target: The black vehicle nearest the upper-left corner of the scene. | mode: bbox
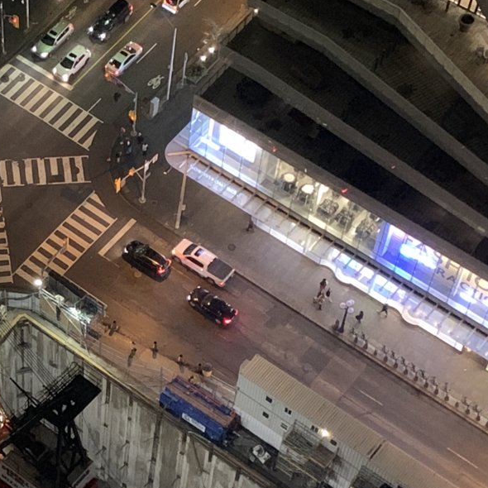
[91,0,132,38]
